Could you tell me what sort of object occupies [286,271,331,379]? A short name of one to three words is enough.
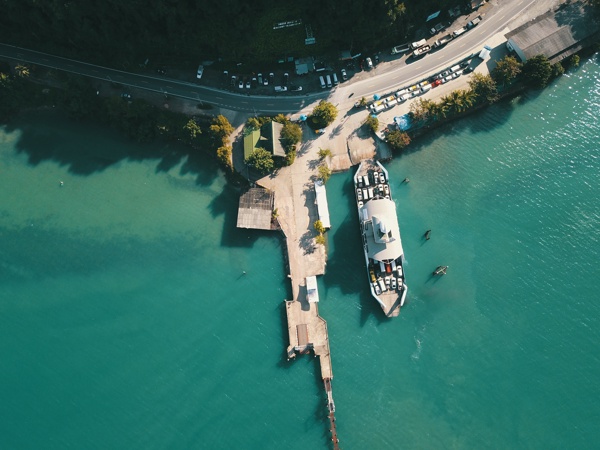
pier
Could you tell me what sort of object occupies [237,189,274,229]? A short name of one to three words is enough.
building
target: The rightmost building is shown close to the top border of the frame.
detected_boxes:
[504,0,600,64]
